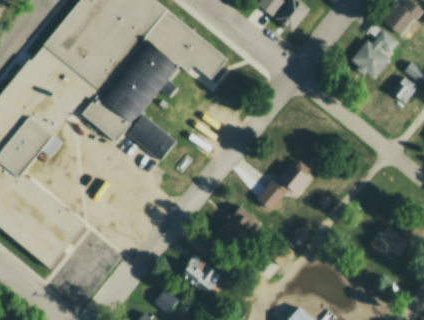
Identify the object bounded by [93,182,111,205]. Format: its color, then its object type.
yellow vehicle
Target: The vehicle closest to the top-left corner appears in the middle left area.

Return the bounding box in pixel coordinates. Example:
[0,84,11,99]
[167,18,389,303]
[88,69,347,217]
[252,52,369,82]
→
[68,122,87,138]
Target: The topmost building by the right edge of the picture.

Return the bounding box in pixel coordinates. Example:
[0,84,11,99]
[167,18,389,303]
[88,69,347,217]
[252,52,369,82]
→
[385,0,424,40]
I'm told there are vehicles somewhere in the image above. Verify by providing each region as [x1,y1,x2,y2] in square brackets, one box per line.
[145,159,156,170]
[126,143,139,156]
[93,182,111,205]
[322,310,334,320]
[194,120,220,142]
[262,28,279,42]
[202,110,222,130]
[188,132,214,152]
[176,154,192,171]
[68,122,87,138]
[119,136,132,150]
[138,154,151,170]
[258,14,270,24]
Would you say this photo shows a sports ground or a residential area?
residential area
